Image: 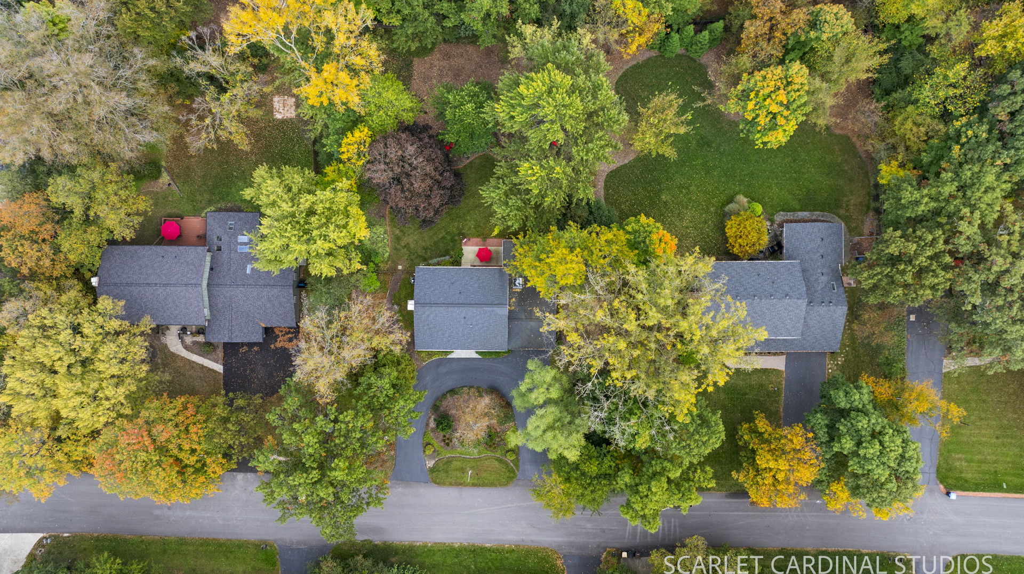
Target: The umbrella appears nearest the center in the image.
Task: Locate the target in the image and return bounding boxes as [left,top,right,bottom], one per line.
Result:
[476,247,492,262]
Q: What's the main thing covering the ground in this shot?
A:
trees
